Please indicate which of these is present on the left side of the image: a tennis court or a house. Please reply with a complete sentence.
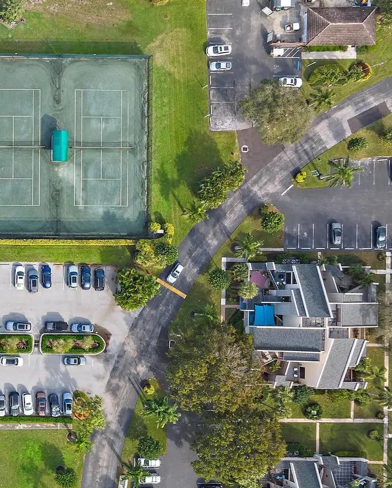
The feature located on the left side of the image is a tennis court.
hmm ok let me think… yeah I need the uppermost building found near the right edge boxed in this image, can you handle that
[305,3,385,46]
